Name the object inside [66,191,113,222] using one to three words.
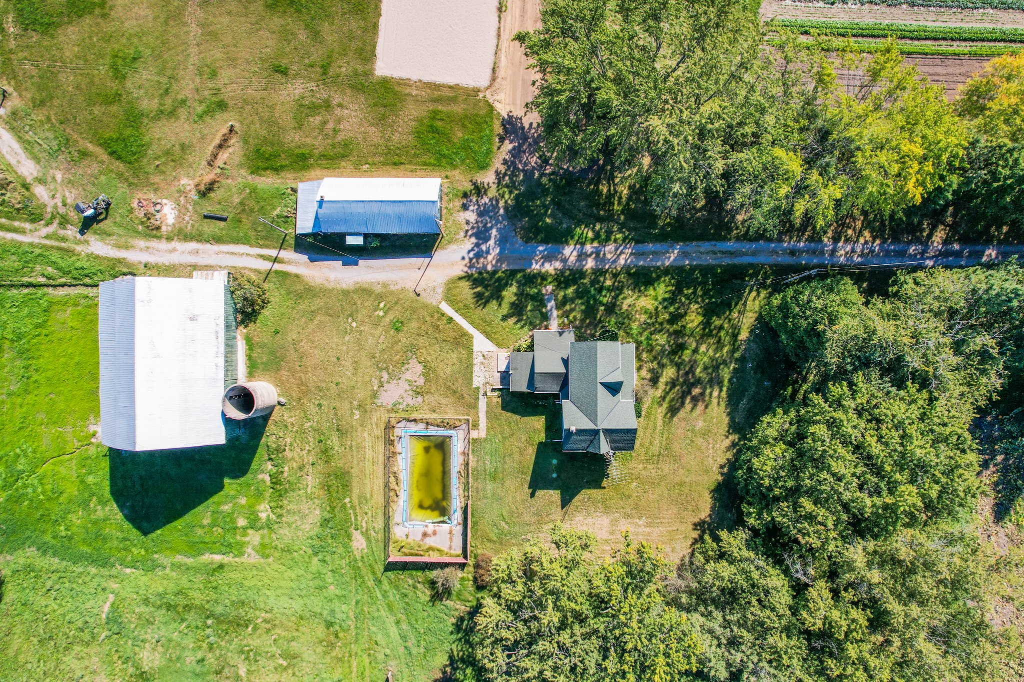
work vehicle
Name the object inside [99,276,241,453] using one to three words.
barn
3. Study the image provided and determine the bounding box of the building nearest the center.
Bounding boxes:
[509,330,638,455]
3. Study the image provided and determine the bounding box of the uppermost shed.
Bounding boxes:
[295,177,442,246]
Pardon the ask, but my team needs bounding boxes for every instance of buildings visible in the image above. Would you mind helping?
[295,177,442,246]
[509,330,638,455]
[99,276,241,453]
